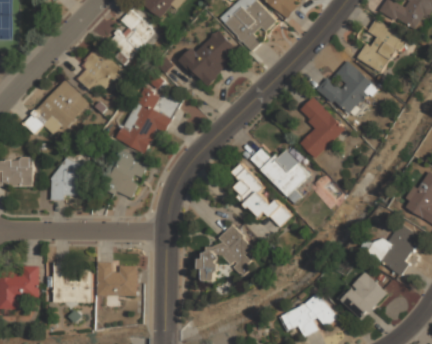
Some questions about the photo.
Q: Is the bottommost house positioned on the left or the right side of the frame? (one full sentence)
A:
The bottommost house is on the right side of the image.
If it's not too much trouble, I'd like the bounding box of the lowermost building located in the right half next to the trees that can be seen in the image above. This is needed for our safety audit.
[281,297,334,338]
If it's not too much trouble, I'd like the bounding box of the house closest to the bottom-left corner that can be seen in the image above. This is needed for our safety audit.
[0,267,38,312]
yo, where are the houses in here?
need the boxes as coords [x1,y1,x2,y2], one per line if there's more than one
[220,0,278,50]
[281,297,334,338]
[230,164,292,228]
[194,224,250,282]
[177,32,232,84]
[264,0,298,16]
[358,22,404,72]
[51,264,92,310]
[318,64,378,116]
[364,226,418,275]
[142,0,186,18]
[109,150,146,200]
[0,267,38,312]
[76,54,120,90]
[38,80,88,133]
[260,149,312,198]
[116,78,178,152]
[0,158,35,188]
[298,100,347,160]
[342,275,388,314]
[112,9,156,64]
[97,262,138,308]
[405,170,432,228]
[50,158,82,200]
